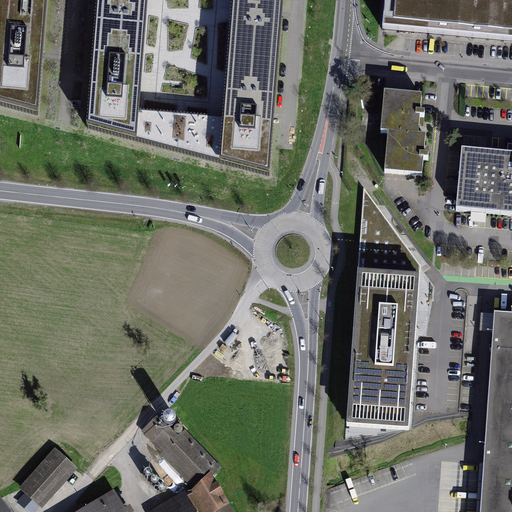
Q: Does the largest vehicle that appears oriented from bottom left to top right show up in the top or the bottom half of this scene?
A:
bottom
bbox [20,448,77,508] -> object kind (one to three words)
barn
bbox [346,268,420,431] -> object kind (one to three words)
building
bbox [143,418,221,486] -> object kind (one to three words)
barn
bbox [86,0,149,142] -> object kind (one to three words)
building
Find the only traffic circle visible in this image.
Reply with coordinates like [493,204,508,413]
[254,213,332,290]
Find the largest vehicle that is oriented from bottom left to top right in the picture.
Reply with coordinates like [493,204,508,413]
[220,328,240,348]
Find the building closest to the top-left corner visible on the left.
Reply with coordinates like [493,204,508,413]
[0,0,49,114]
